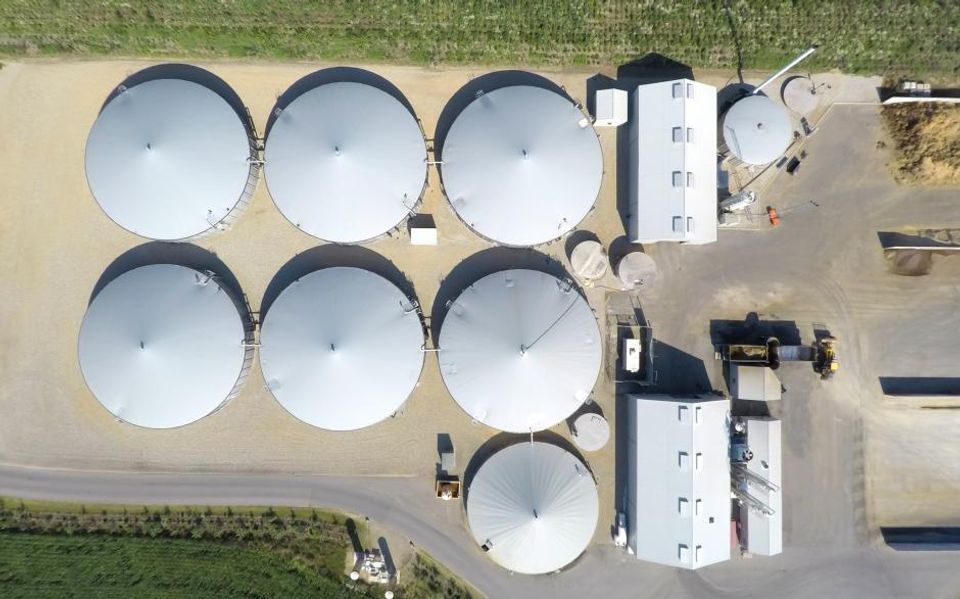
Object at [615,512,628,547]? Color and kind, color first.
white vehicle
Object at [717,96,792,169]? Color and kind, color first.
white silo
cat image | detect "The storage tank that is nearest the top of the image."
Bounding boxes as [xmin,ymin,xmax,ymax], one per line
[782,74,829,113]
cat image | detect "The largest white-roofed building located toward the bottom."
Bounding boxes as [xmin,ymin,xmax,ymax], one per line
[628,394,733,567]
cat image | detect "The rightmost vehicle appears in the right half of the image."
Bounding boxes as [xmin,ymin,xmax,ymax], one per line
[816,336,837,381]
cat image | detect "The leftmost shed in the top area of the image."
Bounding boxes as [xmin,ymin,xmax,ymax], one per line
[399,214,438,246]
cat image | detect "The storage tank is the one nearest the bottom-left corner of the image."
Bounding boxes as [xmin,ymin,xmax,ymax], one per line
[78,262,254,429]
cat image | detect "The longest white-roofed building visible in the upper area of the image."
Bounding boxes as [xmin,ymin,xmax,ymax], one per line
[629,81,717,245]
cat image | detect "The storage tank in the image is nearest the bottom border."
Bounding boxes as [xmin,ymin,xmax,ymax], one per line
[467,437,599,576]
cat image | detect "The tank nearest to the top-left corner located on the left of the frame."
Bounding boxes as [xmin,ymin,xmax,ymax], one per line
[84,77,259,244]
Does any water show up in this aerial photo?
No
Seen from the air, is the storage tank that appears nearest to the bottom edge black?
No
